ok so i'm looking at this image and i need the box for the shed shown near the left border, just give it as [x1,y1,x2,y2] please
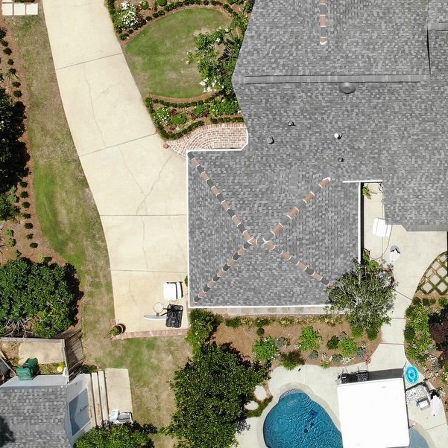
[0,373,90,448]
